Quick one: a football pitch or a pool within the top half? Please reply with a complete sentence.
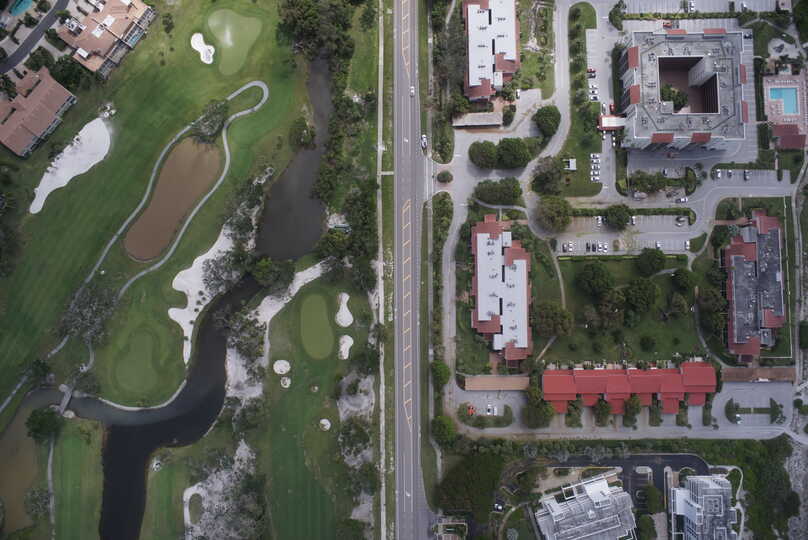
The feature located within the top half is a pool.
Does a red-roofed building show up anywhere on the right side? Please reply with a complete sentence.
Yes, a red-roofed building is visible on the right side.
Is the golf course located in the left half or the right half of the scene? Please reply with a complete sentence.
You can find the golf course on the left side of the picture.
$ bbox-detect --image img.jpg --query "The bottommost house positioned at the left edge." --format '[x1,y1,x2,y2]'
[0,54,80,162]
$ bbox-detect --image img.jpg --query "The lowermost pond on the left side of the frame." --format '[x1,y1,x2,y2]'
[125,138,221,261]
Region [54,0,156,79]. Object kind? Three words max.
house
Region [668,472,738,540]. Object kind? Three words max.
building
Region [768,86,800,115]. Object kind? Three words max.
swimming pool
